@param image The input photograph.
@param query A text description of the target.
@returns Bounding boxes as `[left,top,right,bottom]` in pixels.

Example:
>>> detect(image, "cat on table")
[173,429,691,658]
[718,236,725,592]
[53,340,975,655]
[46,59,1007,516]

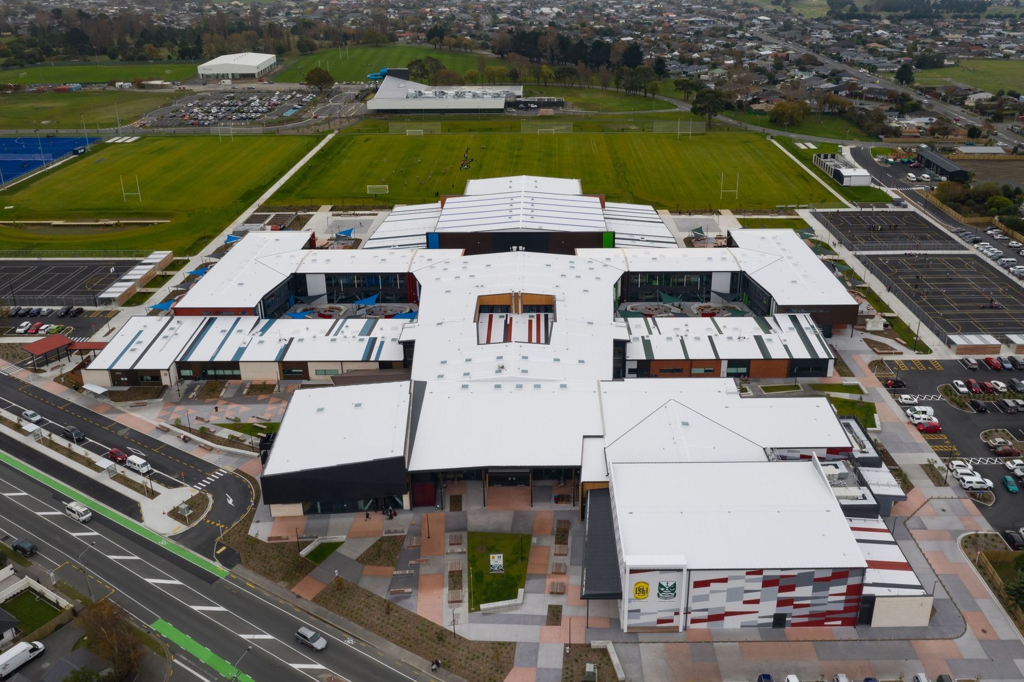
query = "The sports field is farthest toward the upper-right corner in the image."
[268,132,843,209]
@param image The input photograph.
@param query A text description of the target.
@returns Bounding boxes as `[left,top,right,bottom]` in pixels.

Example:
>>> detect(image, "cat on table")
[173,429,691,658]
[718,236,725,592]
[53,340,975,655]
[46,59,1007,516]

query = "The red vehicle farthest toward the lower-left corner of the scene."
[106,446,127,462]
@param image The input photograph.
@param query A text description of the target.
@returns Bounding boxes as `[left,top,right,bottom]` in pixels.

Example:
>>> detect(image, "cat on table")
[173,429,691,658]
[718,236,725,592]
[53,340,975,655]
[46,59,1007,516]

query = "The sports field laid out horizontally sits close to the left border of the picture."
[0,134,326,218]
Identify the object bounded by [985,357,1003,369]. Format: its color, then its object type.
red vehicle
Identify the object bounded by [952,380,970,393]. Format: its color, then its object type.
white vehicle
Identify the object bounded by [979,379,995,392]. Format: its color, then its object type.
red vehicle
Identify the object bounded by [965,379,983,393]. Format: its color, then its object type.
red car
